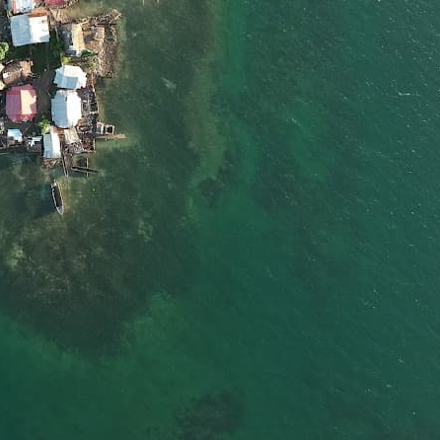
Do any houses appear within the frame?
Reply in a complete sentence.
Yes, looking at the shot, I can spot a house.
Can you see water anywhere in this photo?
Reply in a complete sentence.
Yes, water shows up in the scene.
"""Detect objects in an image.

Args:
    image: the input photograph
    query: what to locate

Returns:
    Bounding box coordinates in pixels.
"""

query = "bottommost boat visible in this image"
[51,179,63,214]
